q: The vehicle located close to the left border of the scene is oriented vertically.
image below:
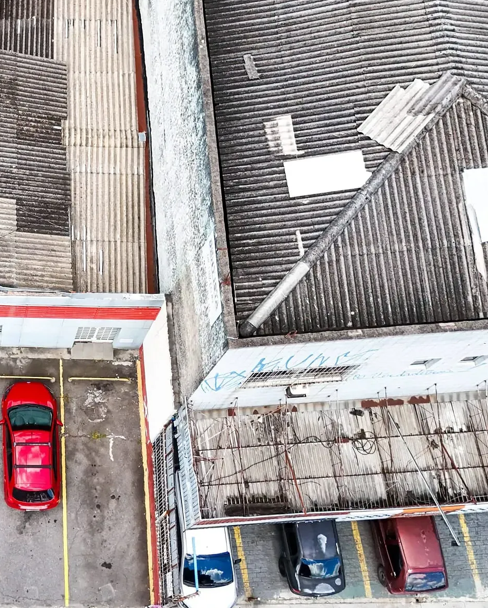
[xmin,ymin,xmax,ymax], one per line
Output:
[0,382,63,513]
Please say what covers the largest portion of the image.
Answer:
buildings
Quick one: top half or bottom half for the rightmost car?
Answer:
bottom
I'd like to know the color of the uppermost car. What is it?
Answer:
red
